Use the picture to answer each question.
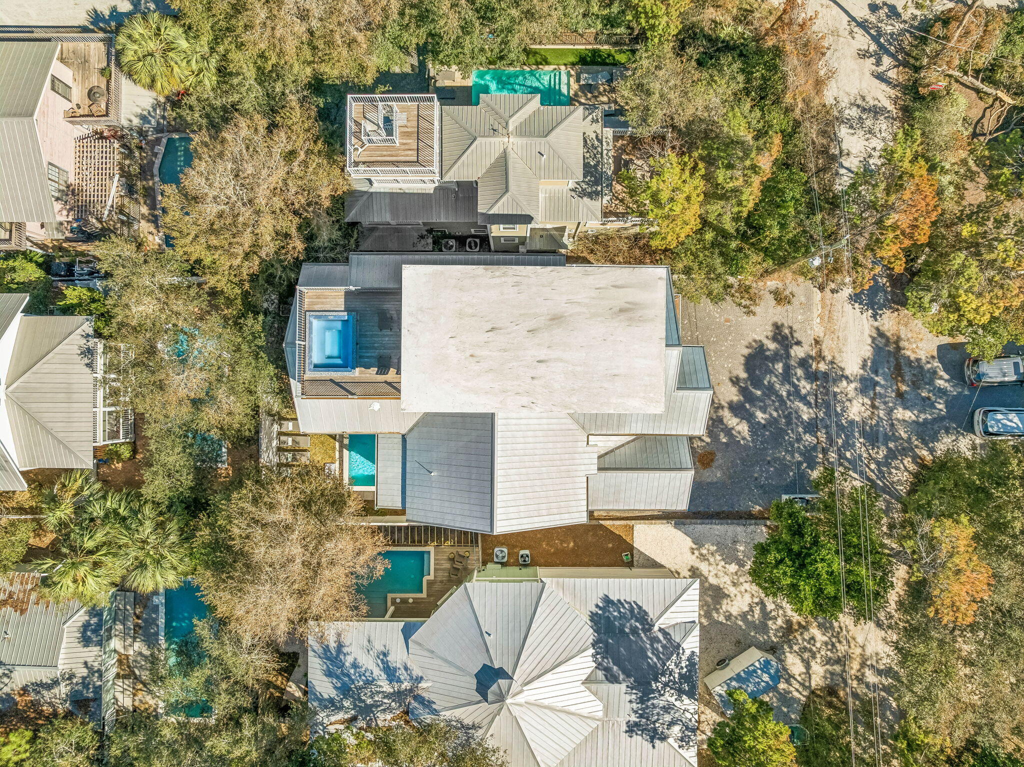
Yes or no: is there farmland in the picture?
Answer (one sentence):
No, there's no farmland in this view.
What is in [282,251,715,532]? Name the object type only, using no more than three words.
house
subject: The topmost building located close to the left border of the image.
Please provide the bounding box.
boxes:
[0,32,163,262]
